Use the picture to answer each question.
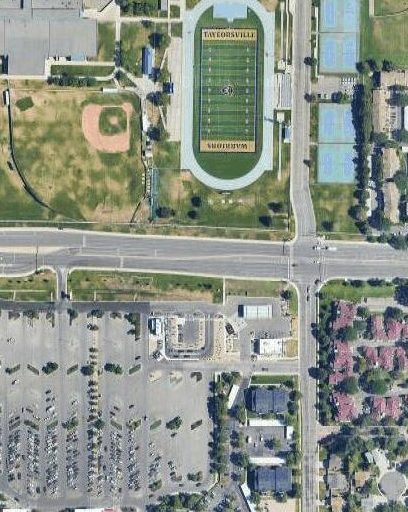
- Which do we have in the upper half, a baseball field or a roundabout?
baseball field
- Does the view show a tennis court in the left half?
No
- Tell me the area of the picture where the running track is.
top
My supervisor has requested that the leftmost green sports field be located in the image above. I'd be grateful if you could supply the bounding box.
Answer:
[193,0,264,180]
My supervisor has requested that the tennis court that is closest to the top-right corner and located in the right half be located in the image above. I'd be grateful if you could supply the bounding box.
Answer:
[341,0,358,29]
